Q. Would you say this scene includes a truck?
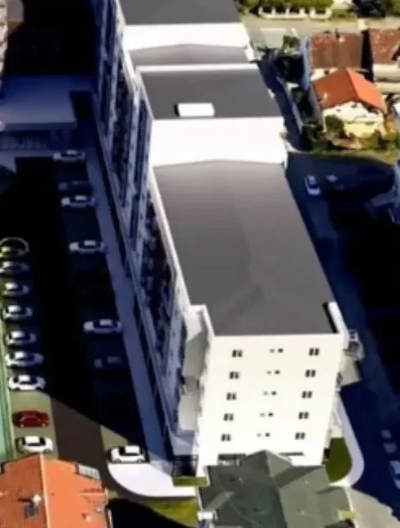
No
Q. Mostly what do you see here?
buildings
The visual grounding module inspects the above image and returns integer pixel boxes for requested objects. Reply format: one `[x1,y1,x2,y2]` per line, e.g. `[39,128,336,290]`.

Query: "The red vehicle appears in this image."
[13,409,51,425]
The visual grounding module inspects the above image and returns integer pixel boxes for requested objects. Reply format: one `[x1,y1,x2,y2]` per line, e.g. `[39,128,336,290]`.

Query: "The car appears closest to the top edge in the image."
[53,149,84,161]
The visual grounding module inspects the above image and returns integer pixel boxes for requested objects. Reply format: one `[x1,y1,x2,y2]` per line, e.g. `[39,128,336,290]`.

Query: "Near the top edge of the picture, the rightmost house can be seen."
[360,26,400,92]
